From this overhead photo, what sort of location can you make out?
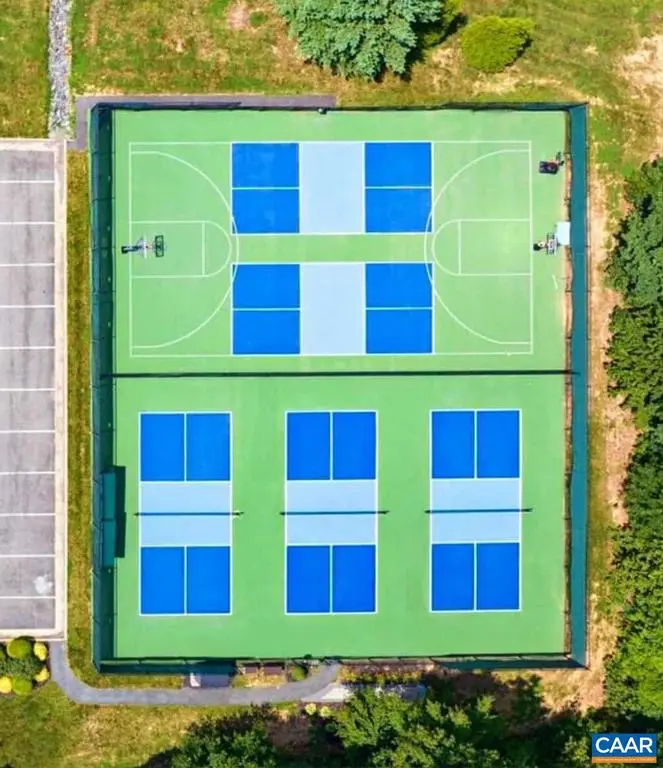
sports ground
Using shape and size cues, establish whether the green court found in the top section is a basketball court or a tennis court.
basketball court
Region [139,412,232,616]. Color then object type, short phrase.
blue sports court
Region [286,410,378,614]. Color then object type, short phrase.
blue sports court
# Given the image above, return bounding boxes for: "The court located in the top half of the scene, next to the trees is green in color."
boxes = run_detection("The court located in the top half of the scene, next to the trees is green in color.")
[104,110,566,374]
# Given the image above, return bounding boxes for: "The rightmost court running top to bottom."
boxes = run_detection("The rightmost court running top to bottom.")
[430,409,522,612]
